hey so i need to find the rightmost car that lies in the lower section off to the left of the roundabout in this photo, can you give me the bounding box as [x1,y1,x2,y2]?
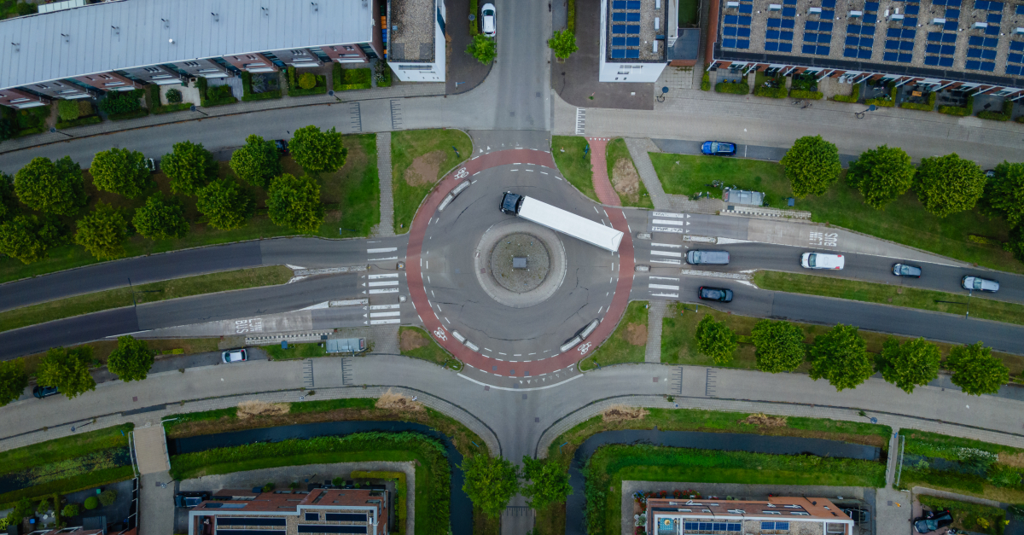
[223,348,249,363]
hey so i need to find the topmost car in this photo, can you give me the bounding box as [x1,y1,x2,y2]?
[480,4,497,38]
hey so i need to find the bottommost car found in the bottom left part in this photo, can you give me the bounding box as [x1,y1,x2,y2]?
[175,490,209,508]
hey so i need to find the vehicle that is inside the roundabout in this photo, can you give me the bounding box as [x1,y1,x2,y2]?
[500,190,623,253]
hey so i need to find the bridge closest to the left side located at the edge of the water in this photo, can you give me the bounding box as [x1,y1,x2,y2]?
[127,420,175,477]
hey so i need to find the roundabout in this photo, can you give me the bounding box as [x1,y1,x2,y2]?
[405,130,635,388]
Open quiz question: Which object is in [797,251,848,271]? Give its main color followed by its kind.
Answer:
white vehicle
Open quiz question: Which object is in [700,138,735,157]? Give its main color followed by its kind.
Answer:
blue car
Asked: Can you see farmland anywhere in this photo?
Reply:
No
